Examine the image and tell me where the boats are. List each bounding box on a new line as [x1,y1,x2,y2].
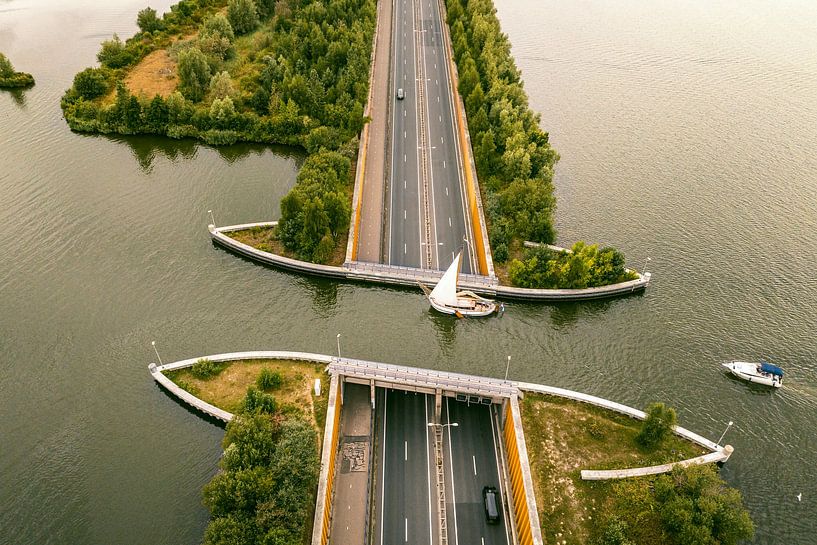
[417,247,506,318]
[723,359,783,389]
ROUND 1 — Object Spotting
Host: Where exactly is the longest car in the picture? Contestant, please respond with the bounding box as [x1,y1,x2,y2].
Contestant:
[483,488,501,525]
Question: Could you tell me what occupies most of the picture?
water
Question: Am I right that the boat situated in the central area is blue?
No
